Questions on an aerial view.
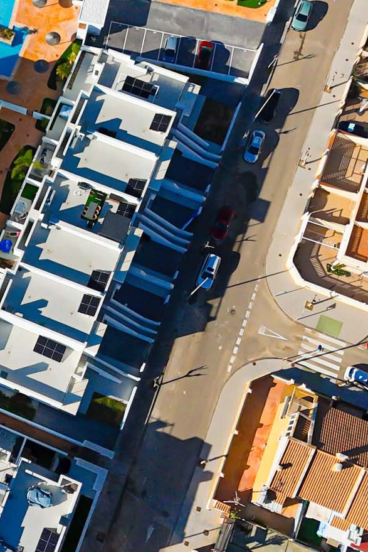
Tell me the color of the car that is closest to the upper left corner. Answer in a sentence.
The color of the car that is closest to the upper left corner is blue.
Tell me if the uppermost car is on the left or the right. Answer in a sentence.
The uppermost car appears in the right half of the scene.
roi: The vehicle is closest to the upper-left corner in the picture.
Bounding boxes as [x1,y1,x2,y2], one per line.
[161,35,181,67]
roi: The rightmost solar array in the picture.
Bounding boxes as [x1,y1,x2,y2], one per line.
[146,111,169,132]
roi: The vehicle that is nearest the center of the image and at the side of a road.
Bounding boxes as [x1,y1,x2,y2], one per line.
[194,252,222,293]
